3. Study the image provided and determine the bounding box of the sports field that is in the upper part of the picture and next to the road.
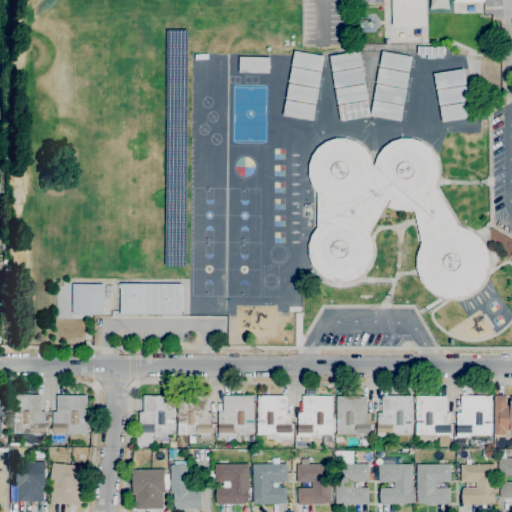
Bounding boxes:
[0,0,304,346]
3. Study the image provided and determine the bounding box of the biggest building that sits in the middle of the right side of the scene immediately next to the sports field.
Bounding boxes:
[308,137,490,299]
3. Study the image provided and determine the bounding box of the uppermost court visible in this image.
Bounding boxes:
[234,85,268,144]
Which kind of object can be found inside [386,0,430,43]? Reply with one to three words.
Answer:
building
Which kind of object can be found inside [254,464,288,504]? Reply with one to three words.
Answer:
house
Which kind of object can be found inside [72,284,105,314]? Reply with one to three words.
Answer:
building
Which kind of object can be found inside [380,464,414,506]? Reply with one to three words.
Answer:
house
